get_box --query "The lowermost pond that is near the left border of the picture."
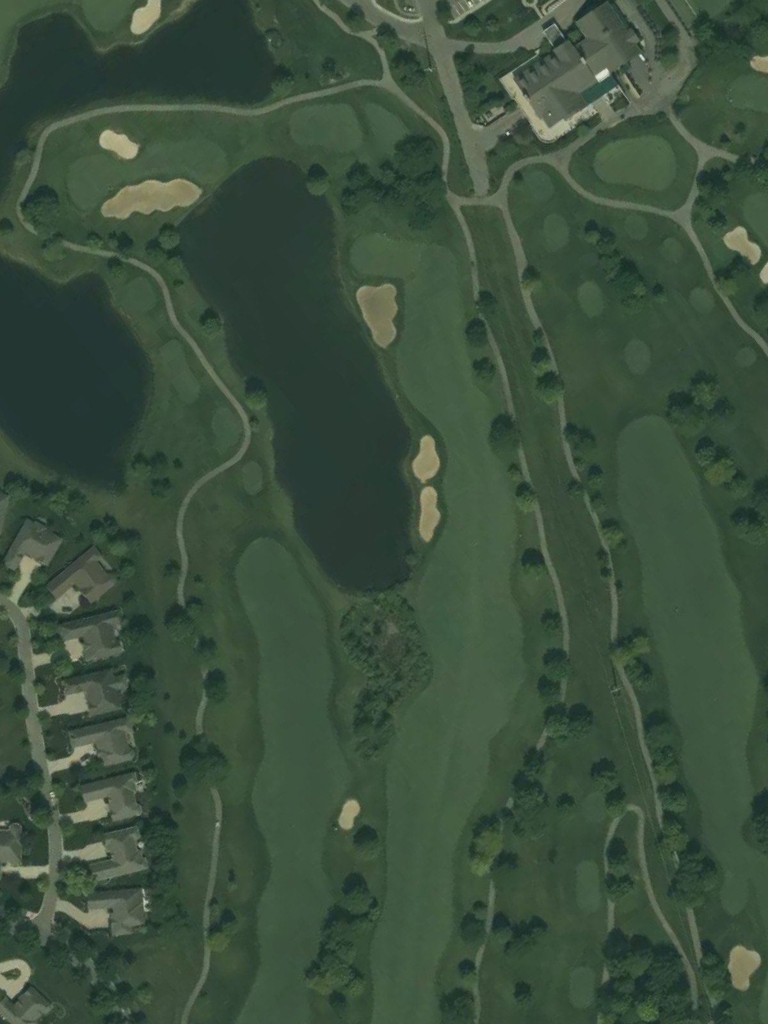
[0,261,151,486]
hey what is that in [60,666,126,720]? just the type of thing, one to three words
house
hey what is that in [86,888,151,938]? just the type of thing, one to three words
house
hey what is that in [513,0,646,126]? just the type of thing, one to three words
building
